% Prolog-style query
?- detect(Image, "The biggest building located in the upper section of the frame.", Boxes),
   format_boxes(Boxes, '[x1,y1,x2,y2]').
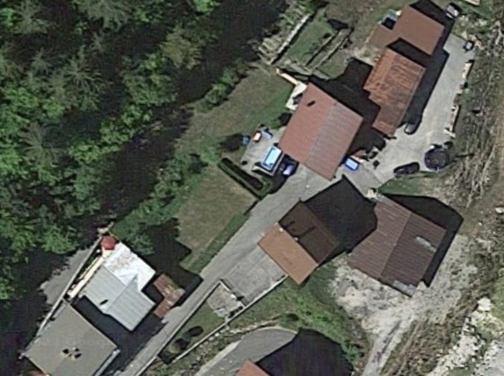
[277,70,363,181]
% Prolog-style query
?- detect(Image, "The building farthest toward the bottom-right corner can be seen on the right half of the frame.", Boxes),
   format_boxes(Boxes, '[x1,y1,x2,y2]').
[348,194,447,297]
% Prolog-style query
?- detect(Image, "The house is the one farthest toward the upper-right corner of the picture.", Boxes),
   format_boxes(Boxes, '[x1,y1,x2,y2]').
[368,5,445,57]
